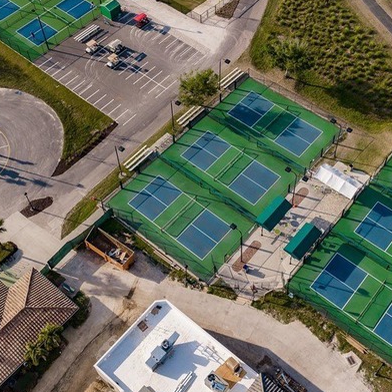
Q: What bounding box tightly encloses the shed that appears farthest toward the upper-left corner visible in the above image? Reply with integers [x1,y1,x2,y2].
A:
[97,0,122,20]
